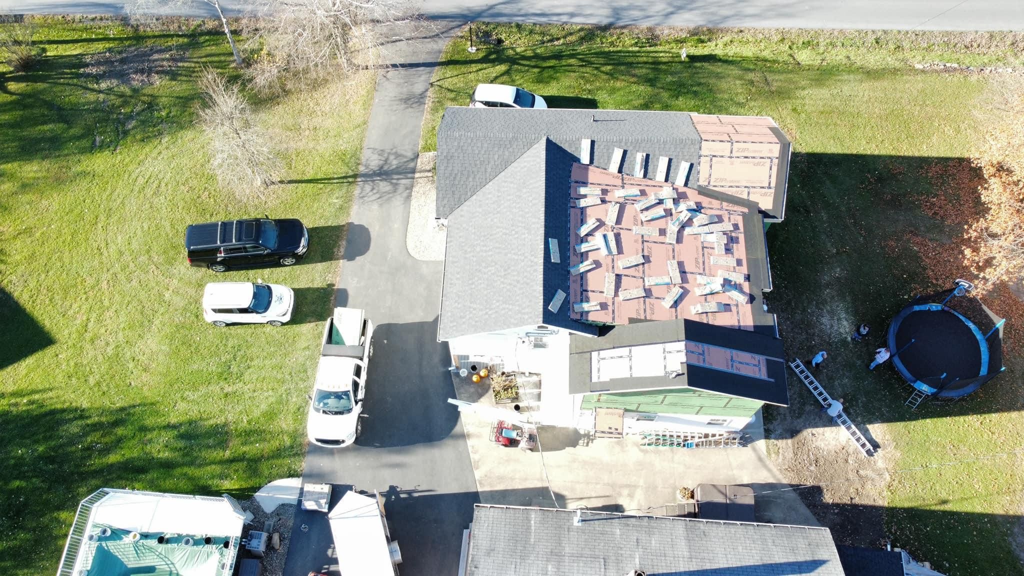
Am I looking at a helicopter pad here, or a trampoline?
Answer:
trampoline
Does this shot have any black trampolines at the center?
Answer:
No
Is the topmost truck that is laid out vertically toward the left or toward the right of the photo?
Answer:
left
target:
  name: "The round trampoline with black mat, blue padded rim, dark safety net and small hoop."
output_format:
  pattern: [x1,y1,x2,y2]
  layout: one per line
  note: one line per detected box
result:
[876,273,1013,411]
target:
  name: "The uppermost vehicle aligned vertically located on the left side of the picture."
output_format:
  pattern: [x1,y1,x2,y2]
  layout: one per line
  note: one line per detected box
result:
[306,315,377,450]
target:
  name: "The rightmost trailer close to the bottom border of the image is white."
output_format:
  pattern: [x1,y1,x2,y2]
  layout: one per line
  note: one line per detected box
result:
[327,469,413,576]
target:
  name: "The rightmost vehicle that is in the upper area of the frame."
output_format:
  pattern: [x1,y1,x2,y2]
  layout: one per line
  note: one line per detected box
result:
[467,77,549,109]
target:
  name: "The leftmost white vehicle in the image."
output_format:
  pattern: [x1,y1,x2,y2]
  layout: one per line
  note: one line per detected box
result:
[197,276,296,328]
